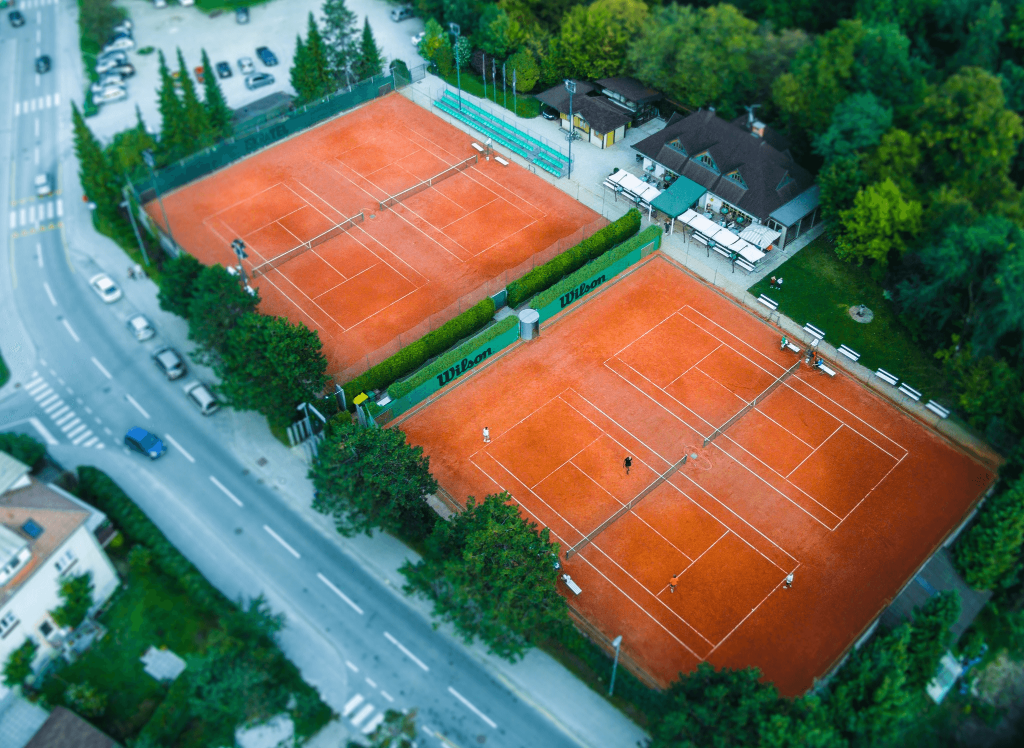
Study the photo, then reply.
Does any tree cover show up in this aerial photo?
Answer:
Yes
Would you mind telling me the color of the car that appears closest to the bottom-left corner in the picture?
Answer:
blue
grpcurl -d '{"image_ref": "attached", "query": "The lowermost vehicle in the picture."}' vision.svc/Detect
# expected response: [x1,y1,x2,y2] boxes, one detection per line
[121,424,169,461]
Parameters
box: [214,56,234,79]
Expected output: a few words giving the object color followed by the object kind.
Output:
blue car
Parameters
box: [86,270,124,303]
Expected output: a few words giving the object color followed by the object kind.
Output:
white car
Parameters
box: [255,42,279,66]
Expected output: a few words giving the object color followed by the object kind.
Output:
blue car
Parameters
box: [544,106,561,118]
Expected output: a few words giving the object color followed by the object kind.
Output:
black vehicle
